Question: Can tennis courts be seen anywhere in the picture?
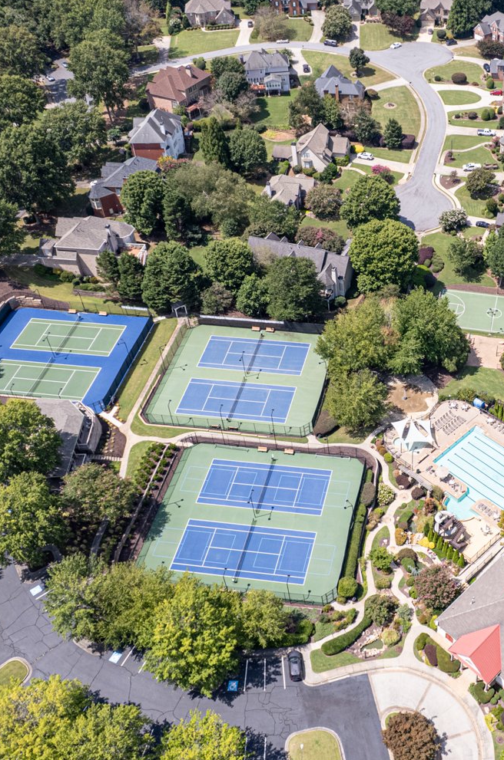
Yes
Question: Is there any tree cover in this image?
Yes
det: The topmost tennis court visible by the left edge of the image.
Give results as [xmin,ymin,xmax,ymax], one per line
[0,307,149,362]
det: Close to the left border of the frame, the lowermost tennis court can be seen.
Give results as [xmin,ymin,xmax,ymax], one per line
[0,352,127,412]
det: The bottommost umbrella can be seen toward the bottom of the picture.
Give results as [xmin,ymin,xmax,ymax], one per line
[434,465,451,482]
